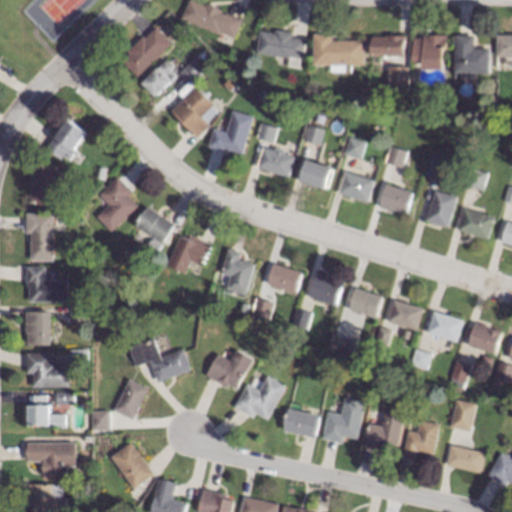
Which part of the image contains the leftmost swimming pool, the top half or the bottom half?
bottom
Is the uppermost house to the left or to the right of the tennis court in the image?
right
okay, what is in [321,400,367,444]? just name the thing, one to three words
house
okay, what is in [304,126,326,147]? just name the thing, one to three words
building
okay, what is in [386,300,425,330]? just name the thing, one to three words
house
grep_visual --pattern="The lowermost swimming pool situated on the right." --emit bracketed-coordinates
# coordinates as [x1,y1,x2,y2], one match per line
[330,121,346,136]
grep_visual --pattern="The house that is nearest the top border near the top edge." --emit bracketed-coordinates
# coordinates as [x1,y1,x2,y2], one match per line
[182,0,243,38]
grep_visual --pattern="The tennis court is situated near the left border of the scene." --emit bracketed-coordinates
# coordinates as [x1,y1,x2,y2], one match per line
[23,0,98,43]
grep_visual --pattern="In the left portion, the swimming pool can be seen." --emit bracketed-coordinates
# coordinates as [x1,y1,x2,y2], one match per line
[70,405,90,433]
